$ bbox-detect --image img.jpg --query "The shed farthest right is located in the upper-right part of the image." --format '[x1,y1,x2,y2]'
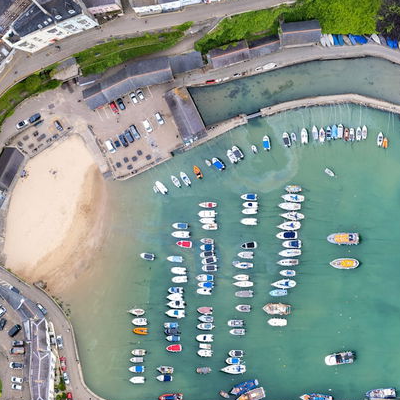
[279,19,322,51]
